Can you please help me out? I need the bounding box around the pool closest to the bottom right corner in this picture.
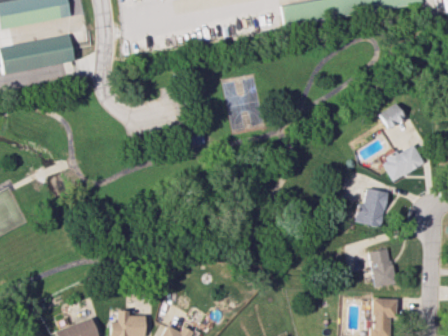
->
[340,296,372,336]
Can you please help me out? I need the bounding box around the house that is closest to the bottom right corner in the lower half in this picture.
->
[370,300,398,336]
